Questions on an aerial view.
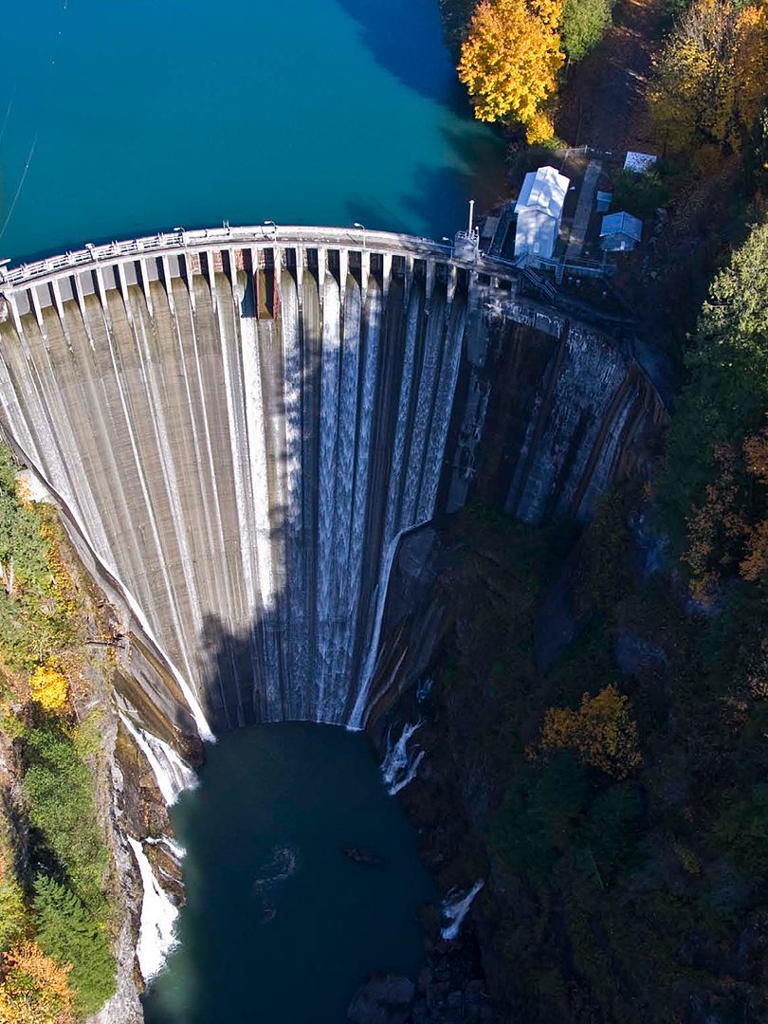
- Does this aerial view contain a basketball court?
No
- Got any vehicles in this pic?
No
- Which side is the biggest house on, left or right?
right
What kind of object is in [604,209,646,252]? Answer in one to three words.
shed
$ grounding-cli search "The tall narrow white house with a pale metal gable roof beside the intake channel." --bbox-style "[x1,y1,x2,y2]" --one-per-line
[513,158,571,262]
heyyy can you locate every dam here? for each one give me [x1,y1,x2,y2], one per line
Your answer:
[0,216,692,737]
